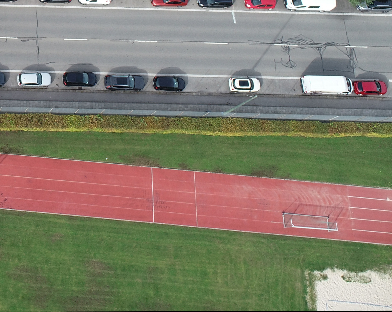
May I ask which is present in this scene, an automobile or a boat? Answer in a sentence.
There is an automobile in the scene.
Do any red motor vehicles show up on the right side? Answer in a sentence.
Yes, a red motor vehicle can be seen on the right side.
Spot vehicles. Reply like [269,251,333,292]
[244,0,277,11]
[351,79,387,97]
[227,77,261,94]
[150,0,188,9]
[17,72,51,90]
[105,74,146,92]
[152,75,185,93]
[300,75,351,96]
[197,0,233,10]
[39,0,72,5]
[285,0,338,13]
[358,0,392,15]
[78,0,113,6]
[63,71,96,89]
